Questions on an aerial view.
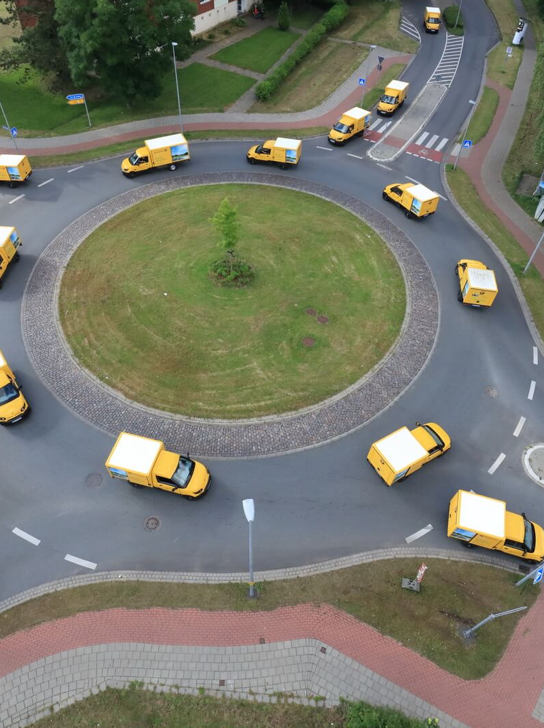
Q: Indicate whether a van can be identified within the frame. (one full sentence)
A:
Yes, a van is visible in the scene.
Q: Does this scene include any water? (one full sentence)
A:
No, there's no water in this view.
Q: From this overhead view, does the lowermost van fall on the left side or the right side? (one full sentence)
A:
You can find the lowermost van on the right side of the picture.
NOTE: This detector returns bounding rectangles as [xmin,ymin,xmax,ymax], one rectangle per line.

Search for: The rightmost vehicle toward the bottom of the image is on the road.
[446,491,544,568]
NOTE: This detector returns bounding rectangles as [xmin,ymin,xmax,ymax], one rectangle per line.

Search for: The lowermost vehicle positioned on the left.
[108,434,210,502]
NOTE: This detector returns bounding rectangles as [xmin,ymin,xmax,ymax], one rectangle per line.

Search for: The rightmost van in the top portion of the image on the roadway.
[457,259,498,310]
